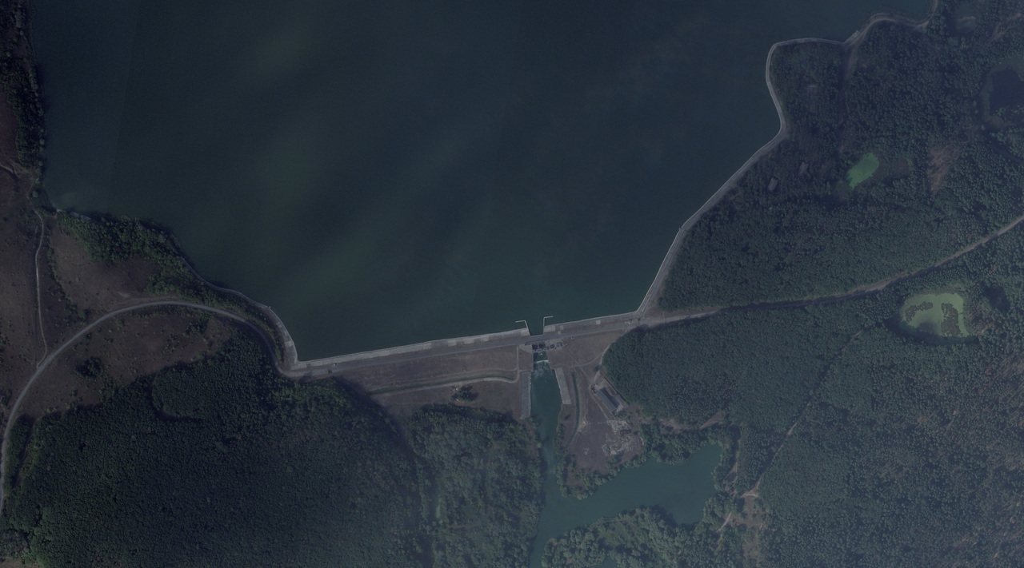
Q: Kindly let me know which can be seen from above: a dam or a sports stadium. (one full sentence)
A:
Of the two, only a dam appears.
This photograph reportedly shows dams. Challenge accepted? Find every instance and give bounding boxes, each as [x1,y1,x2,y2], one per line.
[291,311,638,371]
